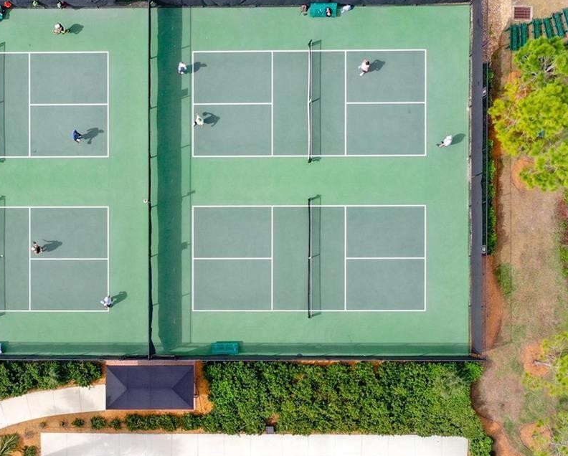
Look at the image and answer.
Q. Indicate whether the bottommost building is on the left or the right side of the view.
left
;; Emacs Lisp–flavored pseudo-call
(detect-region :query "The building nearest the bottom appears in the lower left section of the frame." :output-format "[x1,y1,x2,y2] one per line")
[105,361,197,411]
